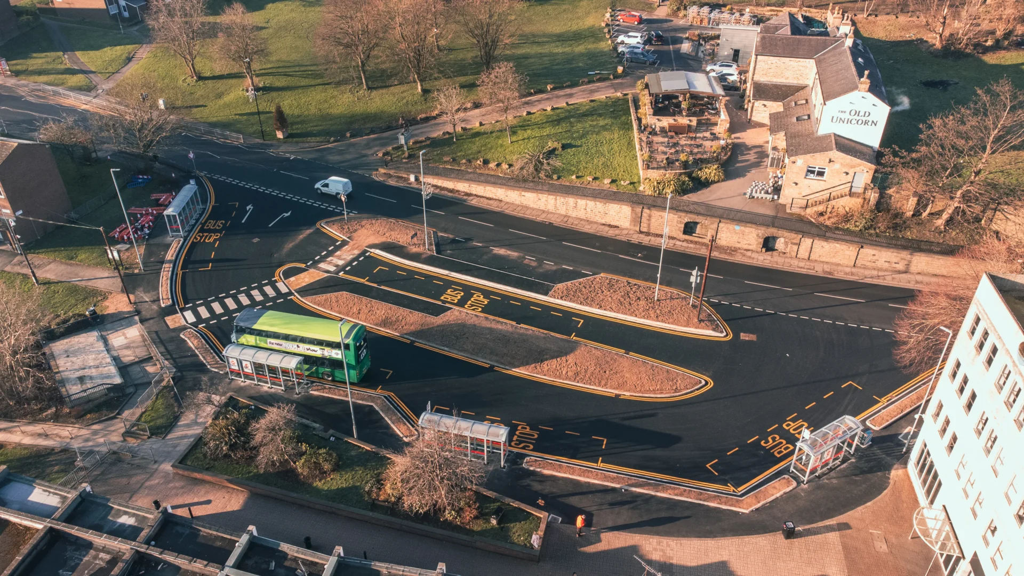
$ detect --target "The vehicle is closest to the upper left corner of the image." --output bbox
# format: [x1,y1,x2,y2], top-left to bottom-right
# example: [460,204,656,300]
[313,177,356,202]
